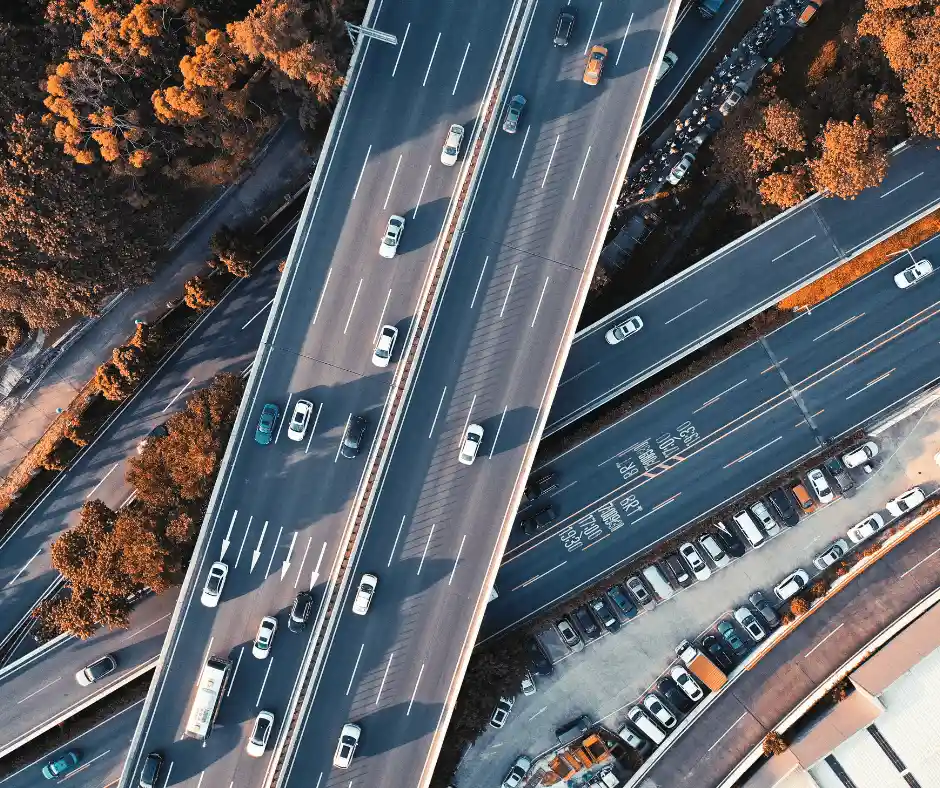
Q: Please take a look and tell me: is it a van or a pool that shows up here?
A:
van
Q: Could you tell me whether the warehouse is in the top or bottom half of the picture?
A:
bottom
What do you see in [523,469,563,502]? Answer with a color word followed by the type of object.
black van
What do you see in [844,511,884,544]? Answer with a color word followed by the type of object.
white car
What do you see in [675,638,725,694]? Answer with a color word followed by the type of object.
orange truck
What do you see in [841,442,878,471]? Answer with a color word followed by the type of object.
white car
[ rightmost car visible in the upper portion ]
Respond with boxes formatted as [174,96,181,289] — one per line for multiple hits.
[890,258,933,290]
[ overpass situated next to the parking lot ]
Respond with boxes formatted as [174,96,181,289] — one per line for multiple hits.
[118,0,681,788]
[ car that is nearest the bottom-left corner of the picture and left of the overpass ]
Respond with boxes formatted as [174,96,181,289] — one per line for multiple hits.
[42,748,83,779]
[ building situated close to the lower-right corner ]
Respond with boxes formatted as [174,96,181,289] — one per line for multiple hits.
[738,604,940,788]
